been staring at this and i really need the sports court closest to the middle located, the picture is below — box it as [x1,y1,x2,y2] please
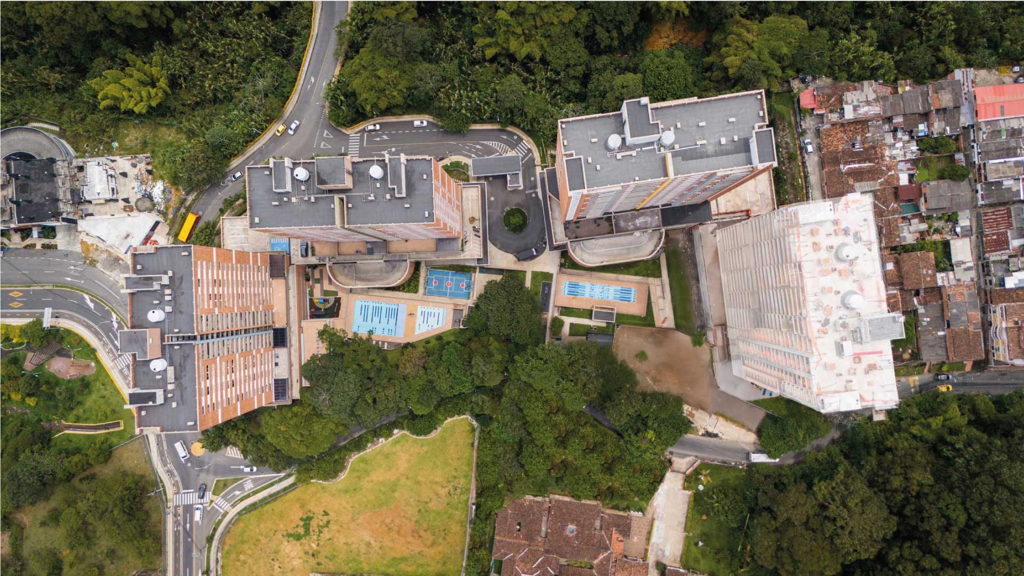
[423,267,473,301]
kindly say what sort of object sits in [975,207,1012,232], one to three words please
house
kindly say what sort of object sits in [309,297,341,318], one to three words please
playground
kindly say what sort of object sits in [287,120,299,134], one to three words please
vehicle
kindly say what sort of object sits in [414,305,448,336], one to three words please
swimming pool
